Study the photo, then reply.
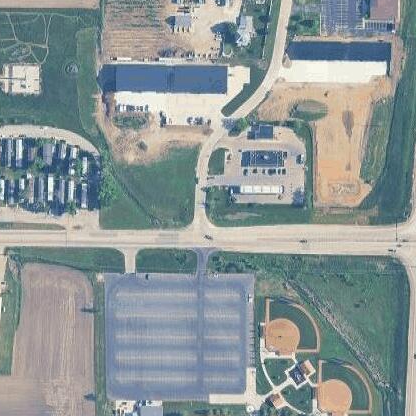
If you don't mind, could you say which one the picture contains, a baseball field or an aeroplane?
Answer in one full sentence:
I can see a baseball field in this picture.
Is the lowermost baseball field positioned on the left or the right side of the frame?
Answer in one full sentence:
The lowermost baseball field appears in the right half of the scene.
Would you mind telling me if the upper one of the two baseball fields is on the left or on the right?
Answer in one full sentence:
The upper one of the two baseball fields sits on the right side.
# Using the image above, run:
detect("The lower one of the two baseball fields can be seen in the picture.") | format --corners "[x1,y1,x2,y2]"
[316,358,373,415]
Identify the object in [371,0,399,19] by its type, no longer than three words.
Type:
building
